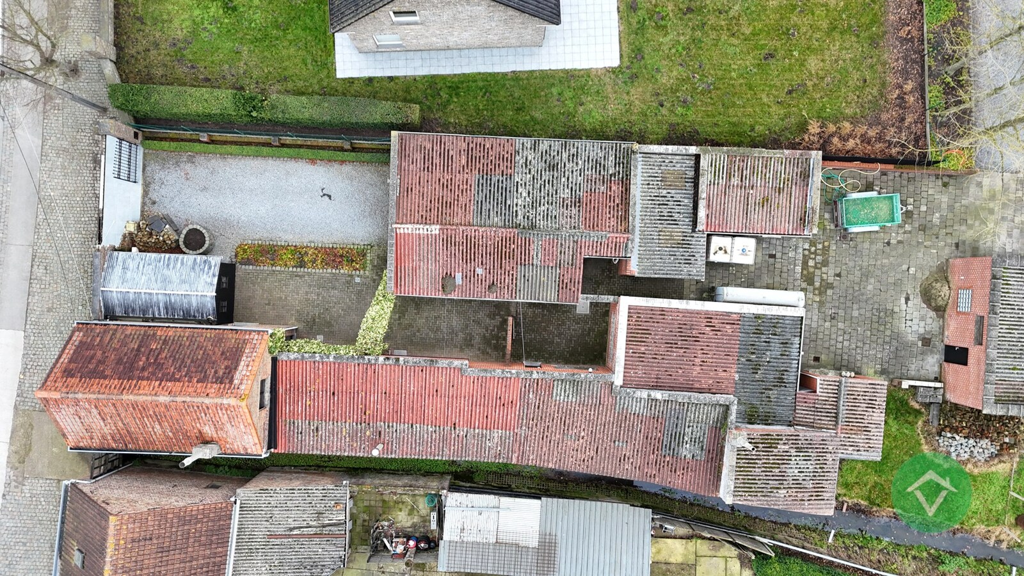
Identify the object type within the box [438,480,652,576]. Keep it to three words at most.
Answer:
shed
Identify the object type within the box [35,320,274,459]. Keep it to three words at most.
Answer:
house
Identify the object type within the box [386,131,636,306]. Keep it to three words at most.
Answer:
barn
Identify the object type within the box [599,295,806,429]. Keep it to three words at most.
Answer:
building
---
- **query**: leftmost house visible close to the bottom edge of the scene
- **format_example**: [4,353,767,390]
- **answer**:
[60,459,253,576]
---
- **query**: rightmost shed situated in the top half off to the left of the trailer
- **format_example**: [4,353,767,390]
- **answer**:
[695,146,822,241]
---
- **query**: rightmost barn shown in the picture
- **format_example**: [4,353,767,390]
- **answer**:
[942,255,1024,416]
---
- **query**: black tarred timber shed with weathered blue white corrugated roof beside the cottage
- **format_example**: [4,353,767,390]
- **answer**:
[99,250,236,320]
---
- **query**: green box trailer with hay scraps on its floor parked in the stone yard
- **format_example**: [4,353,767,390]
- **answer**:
[829,190,910,234]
